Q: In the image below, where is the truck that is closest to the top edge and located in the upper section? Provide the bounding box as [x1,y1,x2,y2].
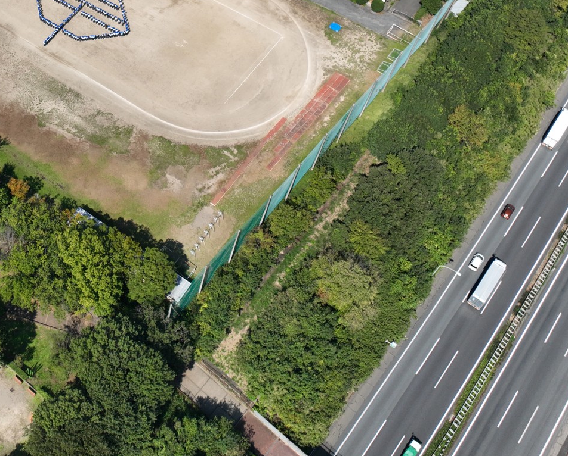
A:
[539,113,568,153]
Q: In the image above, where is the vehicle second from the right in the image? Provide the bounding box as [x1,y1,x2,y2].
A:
[500,203,514,221]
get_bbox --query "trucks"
[398,429,427,456]
[465,263,503,314]
[539,113,568,153]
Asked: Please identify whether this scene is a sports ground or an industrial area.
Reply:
sports ground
